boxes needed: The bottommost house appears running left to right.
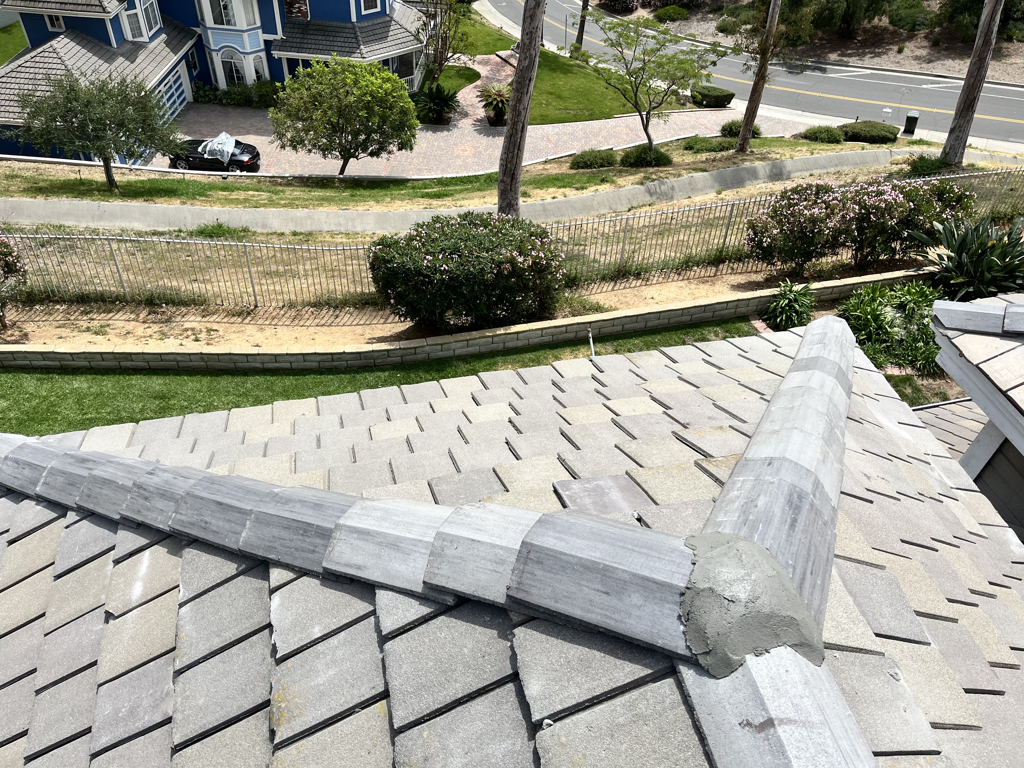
[0,295,1024,768]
